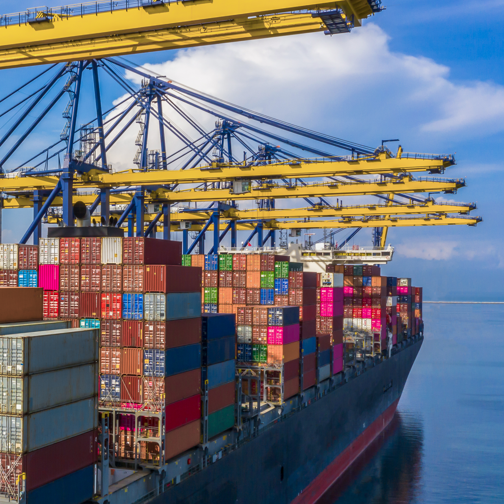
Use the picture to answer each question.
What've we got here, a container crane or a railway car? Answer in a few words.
container crane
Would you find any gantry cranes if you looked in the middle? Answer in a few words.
Yes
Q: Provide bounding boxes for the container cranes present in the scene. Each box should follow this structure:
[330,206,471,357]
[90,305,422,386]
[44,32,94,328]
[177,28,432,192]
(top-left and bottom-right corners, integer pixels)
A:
[0,0,381,69]
[309,148,410,277]
[0,54,459,245]
[41,112,481,345]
